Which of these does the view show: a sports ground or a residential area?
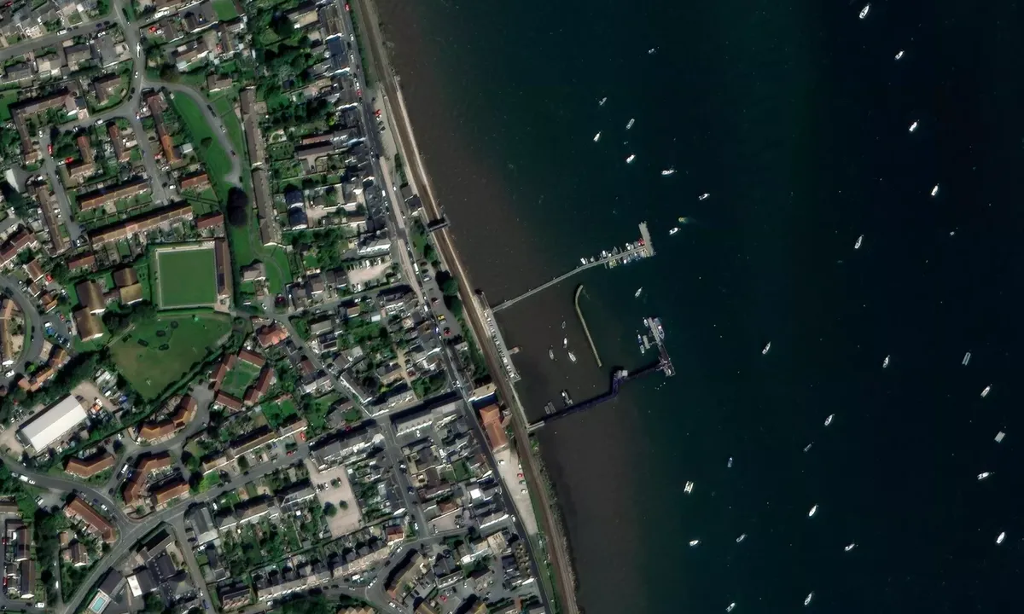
residential area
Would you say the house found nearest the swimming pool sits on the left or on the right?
left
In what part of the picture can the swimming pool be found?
bottom left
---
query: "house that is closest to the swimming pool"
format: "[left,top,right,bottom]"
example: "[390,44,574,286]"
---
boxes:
[98,570,126,603]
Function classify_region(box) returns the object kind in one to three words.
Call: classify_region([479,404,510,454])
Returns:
building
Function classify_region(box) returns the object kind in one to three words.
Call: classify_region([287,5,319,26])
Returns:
house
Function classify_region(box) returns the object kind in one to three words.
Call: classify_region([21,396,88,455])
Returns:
building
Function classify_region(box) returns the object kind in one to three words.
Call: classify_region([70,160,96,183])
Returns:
house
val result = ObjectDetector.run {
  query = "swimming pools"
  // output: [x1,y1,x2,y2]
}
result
[88,592,110,614]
